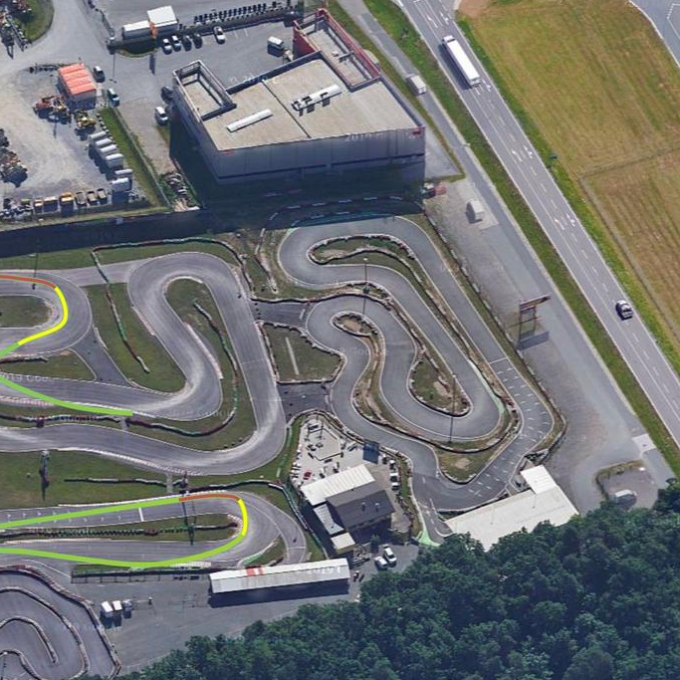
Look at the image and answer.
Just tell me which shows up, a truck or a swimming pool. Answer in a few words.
truck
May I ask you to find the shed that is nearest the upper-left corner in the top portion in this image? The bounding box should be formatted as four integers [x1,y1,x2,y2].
[59,64,97,109]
